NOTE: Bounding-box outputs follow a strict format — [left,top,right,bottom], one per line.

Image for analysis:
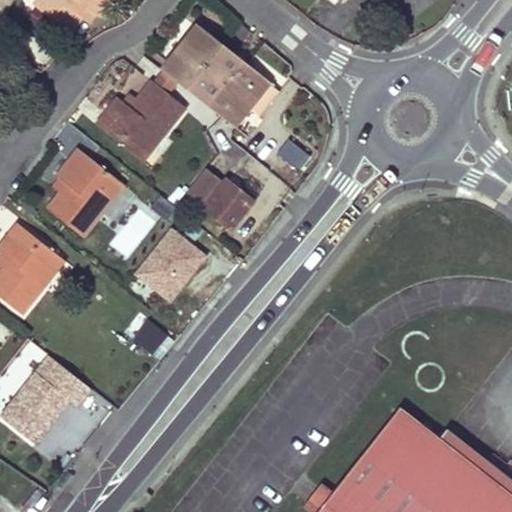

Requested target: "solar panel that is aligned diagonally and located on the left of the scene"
[72,190,110,232]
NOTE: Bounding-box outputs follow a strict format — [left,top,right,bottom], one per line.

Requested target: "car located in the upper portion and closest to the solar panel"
[10,170,27,192]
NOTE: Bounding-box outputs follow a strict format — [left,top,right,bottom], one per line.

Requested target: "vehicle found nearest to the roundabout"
[390,76,410,94]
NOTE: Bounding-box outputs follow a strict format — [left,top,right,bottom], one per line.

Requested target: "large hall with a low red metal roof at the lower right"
[318,408,512,512]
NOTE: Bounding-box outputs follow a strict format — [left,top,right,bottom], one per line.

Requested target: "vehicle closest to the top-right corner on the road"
[468,30,501,72]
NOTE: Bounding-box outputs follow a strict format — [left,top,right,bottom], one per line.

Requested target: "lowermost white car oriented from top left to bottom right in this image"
[261,485,282,503]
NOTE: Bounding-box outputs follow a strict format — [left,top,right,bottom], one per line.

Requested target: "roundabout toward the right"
[385,92,438,145]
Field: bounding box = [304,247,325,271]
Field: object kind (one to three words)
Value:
vehicle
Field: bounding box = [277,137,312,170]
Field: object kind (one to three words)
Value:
building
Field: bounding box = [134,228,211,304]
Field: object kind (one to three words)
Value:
house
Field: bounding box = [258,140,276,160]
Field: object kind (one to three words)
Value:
car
